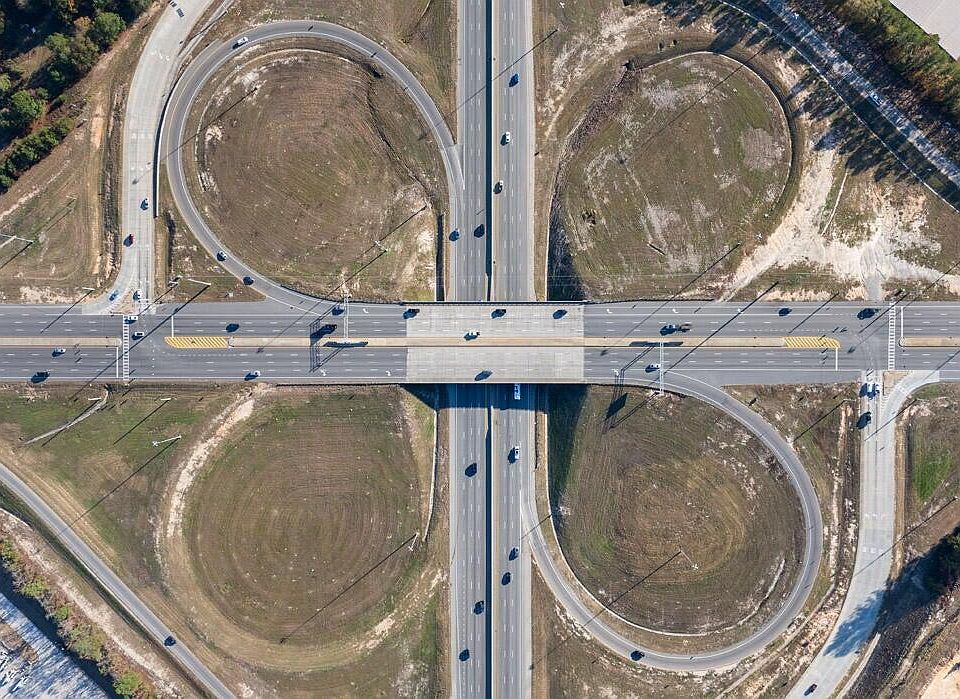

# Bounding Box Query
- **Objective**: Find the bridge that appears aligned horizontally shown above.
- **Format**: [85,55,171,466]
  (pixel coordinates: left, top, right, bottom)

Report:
[403,301,587,384]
